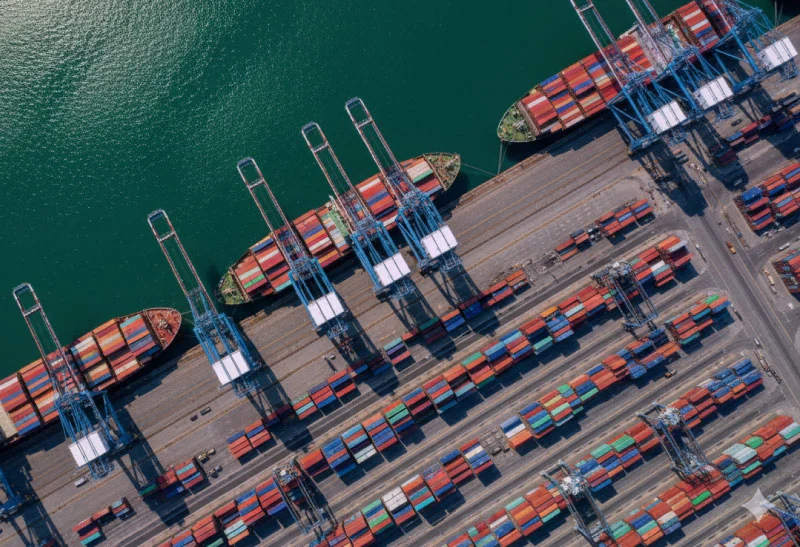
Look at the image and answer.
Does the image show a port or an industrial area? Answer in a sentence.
This image shows a port.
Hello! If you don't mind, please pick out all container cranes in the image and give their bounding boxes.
[573,0,687,160]
[262,450,331,533]
[702,0,796,102]
[301,120,420,303]
[584,257,658,331]
[8,281,152,477]
[538,456,612,538]
[238,156,362,340]
[145,206,277,395]
[633,0,730,134]
[627,398,707,478]
[347,95,465,278]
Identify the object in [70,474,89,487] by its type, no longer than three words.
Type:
vehicle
